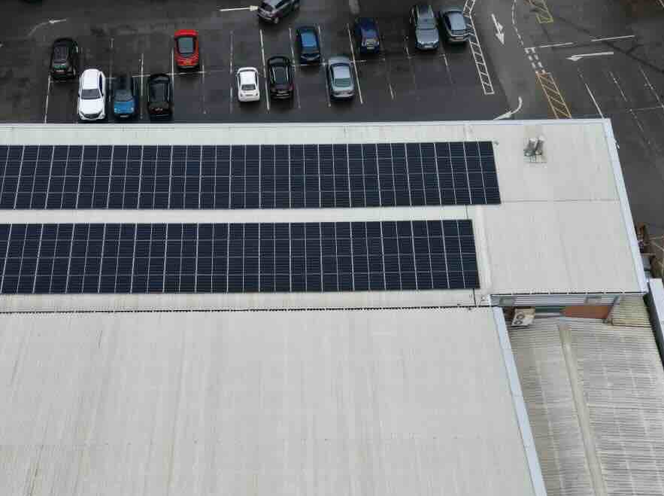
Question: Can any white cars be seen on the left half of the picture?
Yes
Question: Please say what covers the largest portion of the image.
buildings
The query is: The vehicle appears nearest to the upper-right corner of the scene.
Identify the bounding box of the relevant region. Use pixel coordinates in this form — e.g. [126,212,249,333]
[442,9,470,47]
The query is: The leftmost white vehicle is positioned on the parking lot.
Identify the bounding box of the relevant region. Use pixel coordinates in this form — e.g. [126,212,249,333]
[75,67,106,121]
